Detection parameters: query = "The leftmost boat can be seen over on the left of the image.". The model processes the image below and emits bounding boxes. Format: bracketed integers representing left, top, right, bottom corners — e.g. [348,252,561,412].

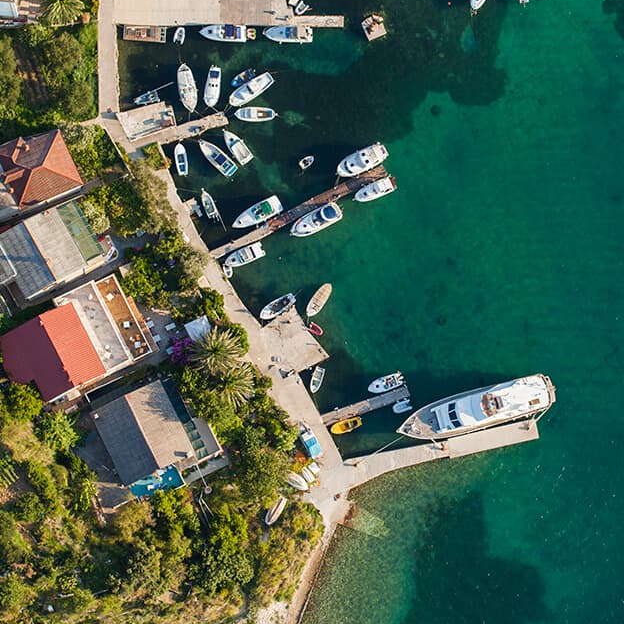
[134,91,171,105]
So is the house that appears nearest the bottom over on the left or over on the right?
left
